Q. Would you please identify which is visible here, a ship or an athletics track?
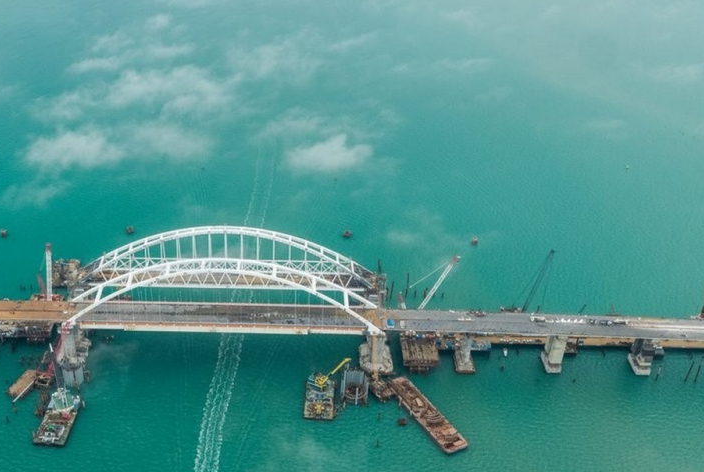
ship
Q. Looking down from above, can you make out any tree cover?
No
